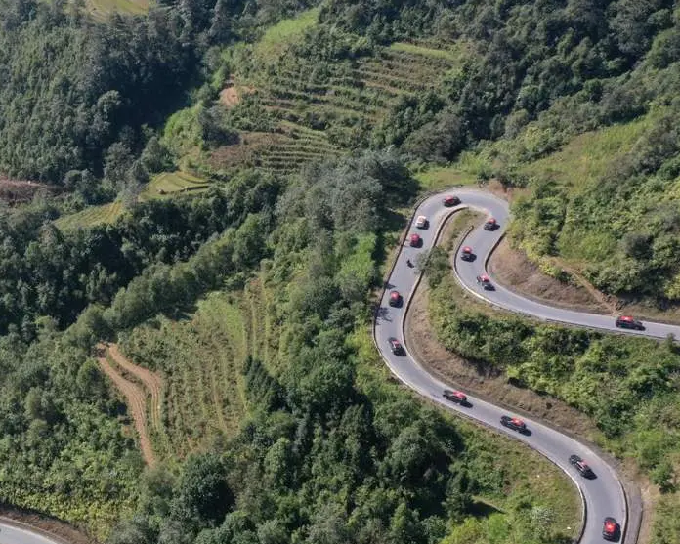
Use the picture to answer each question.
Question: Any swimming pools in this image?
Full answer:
No, there isn't any swimming pool down there.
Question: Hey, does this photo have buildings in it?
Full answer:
No, there is no building in the image.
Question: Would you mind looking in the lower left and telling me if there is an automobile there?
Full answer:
No, looking in the lower left, there is no automobile.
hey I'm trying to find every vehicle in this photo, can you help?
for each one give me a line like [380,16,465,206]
[416,215,427,226]
[443,197,459,206]
[410,237,420,247]
[462,245,473,260]
[568,457,595,479]
[484,216,497,229]
[499,417,529,434]
[601,518,619,543]
[443,391,472,408]
[389,292,402,306]
[474,274,493,289]
[614,314,643,329]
